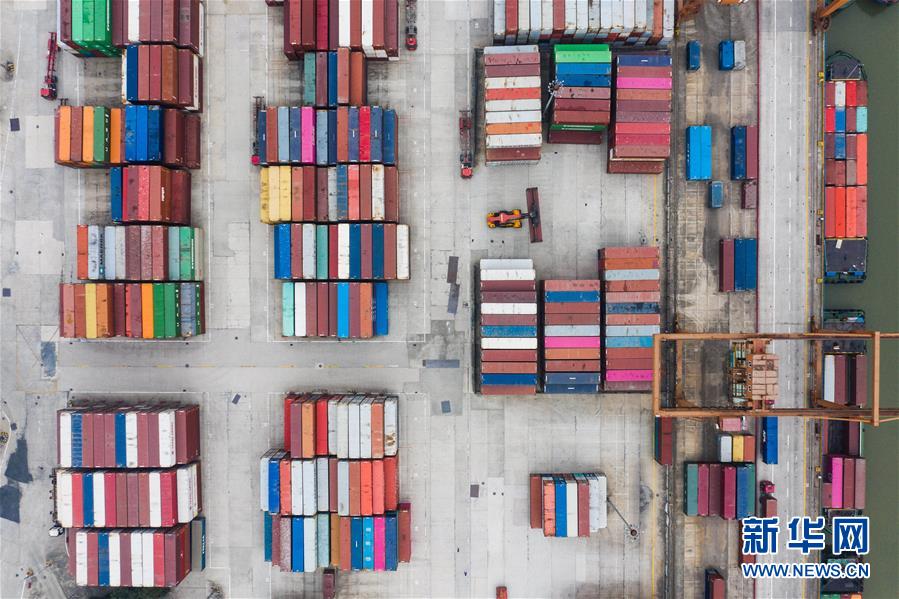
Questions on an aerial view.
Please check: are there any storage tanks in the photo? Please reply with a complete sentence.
No, the scene contains no storage tank.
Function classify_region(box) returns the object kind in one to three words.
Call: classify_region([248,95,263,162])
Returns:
vehicle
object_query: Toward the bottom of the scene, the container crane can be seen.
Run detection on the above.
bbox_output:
[652,316,899,422]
